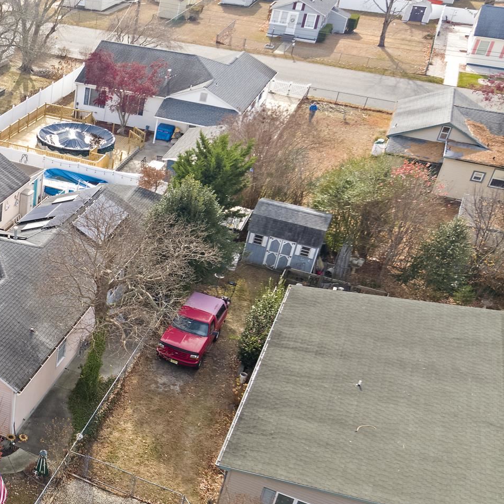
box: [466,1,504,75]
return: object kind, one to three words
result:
house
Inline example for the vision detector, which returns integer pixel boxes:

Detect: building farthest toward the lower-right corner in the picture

[208,283,504,504]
